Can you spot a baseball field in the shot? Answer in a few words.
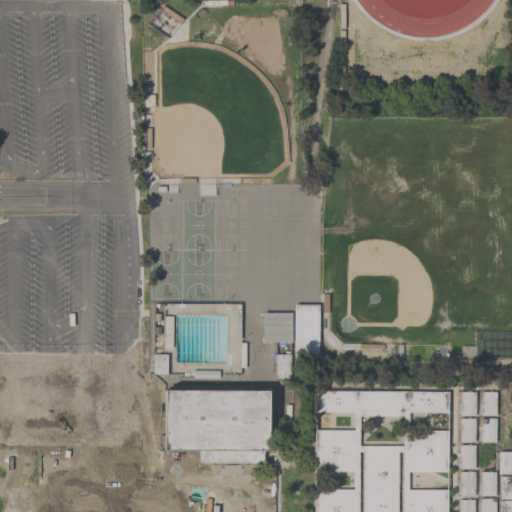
Yes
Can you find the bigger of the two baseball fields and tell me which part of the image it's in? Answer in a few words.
top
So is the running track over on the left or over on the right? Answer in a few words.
right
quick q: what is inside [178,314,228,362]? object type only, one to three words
swimming pool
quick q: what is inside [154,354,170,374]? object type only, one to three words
building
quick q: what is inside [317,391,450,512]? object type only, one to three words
building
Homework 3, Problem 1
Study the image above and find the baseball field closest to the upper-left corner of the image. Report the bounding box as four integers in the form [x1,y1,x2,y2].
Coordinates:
[152,41,290,178]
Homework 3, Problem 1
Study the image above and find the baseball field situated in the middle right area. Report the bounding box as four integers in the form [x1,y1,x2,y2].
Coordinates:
[341,239,432,332]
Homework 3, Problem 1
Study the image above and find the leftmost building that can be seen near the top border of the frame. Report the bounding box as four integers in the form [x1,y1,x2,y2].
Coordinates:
[150,0,187,38]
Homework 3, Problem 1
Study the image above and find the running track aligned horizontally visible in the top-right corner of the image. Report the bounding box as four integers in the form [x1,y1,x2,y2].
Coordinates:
[353,0,499,40]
